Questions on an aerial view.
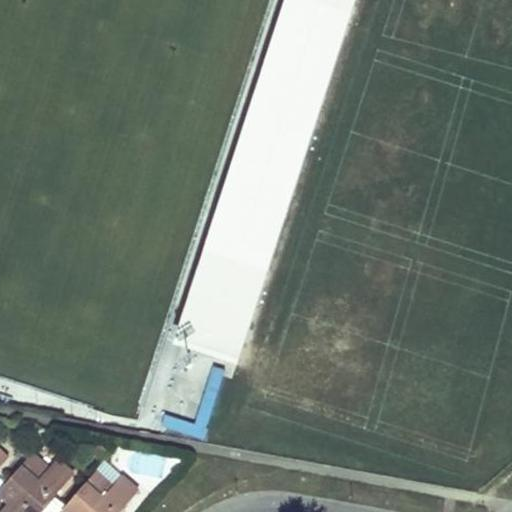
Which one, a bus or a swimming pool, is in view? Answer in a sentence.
Visible in the photo is a swimming pool.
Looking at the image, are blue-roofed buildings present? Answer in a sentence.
Yes, there is a blue-roofed building in the image.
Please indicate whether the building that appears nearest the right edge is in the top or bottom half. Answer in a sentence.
The building that appears nearest the right edge is in the bottom half of the image.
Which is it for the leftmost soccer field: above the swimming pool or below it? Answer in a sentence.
The leftmost soccer field is located above the swimming pool in this view.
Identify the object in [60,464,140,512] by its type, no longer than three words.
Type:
house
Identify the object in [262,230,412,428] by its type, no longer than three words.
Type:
sports field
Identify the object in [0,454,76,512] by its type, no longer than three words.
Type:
house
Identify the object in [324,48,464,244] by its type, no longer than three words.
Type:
sports field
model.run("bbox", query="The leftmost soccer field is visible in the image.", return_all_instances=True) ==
[0,0,272,416]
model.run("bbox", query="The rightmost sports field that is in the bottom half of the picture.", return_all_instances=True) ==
[375,262,512,461]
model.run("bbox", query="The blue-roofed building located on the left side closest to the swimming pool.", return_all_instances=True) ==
[162,366,224,442]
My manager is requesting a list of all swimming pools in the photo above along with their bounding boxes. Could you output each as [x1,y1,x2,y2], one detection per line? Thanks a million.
[128,452,166,478]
